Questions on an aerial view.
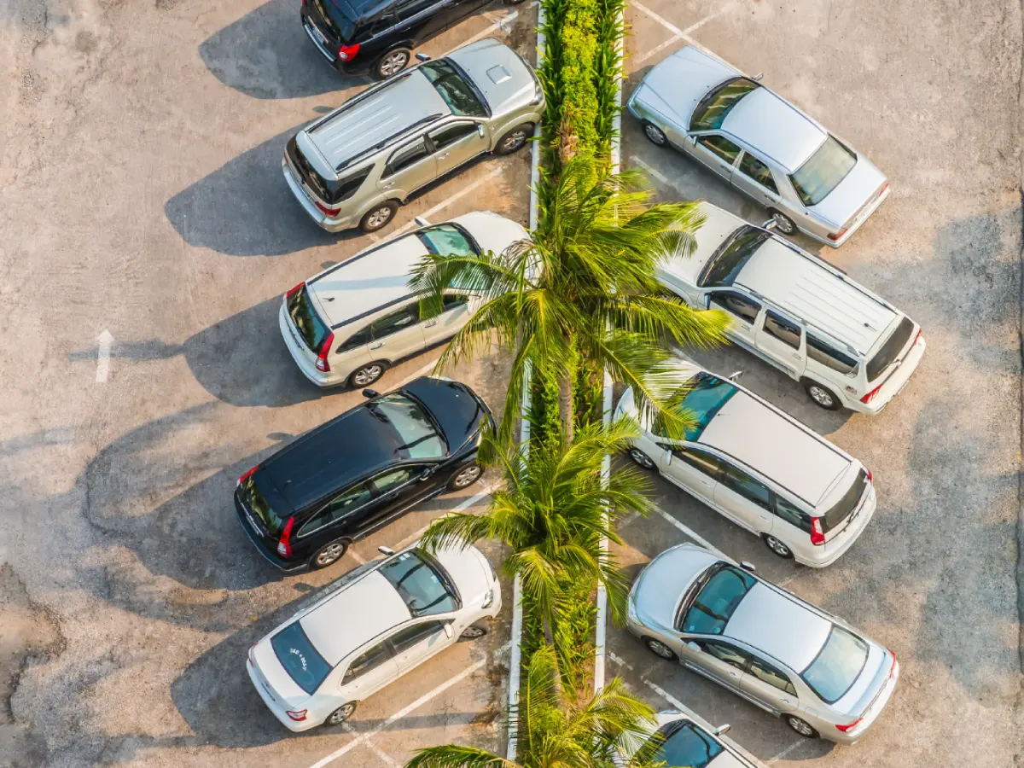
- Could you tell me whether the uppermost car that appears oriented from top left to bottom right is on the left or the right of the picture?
right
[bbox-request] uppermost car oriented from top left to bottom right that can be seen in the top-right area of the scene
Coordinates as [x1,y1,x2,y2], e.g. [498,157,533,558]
[624,40,890,253]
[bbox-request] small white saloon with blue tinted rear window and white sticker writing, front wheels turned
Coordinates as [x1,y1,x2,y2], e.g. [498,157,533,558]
[247,537,497,734]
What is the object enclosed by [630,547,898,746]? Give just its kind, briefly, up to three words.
car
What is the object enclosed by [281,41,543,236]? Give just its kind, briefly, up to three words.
car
